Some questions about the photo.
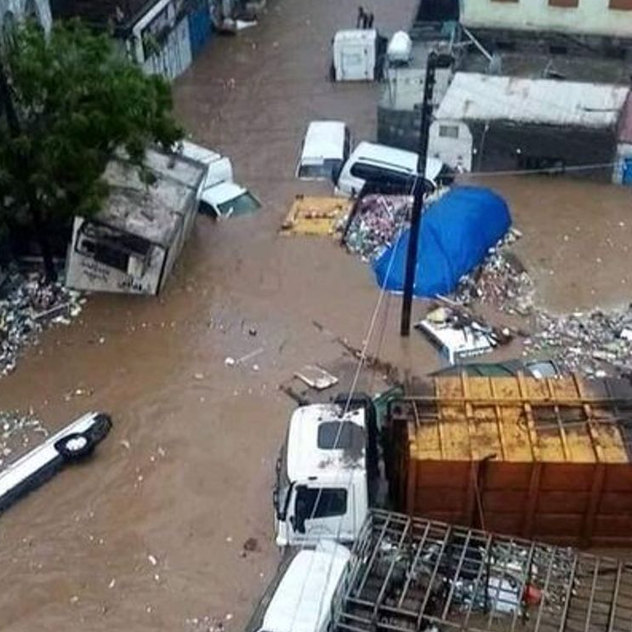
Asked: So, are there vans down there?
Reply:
Yes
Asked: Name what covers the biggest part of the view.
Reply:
water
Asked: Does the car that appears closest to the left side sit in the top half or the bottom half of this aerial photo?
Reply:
bottom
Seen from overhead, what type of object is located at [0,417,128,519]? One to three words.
car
